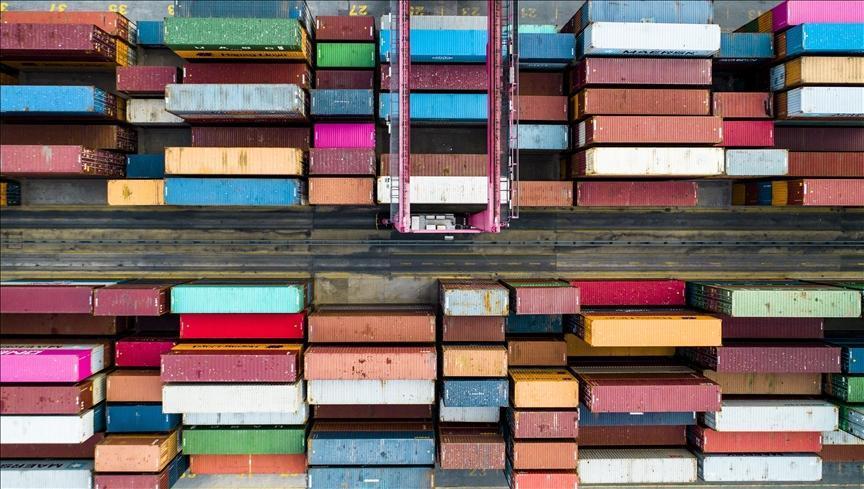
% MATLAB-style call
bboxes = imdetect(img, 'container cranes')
[373,0,525,234]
